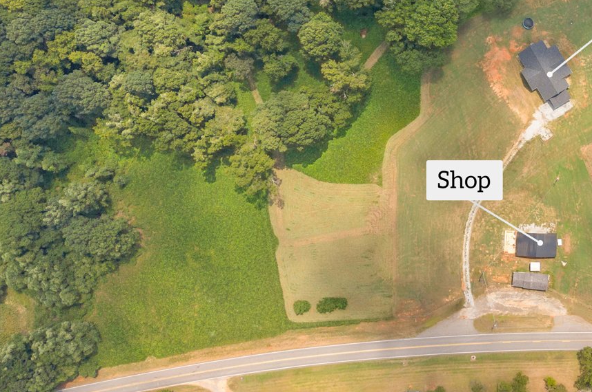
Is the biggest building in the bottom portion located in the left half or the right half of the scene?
right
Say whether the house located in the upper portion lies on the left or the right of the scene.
right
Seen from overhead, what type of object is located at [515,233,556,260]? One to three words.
building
